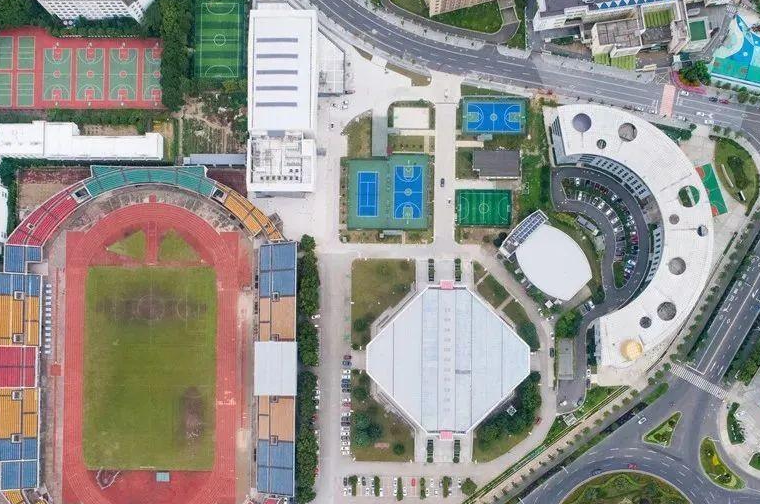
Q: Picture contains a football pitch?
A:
Yes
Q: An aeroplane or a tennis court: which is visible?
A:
tennis court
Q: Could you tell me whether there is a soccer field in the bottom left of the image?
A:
Yes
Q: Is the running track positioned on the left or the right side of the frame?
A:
left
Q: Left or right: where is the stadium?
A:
left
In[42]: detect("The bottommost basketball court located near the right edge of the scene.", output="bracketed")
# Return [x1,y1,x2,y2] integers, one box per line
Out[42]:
[696,162,729,217]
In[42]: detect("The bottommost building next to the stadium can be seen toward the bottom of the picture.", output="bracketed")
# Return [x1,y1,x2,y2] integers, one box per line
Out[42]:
[366,279,532,441]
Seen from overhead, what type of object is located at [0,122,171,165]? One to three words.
building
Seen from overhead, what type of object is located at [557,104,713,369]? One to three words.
building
